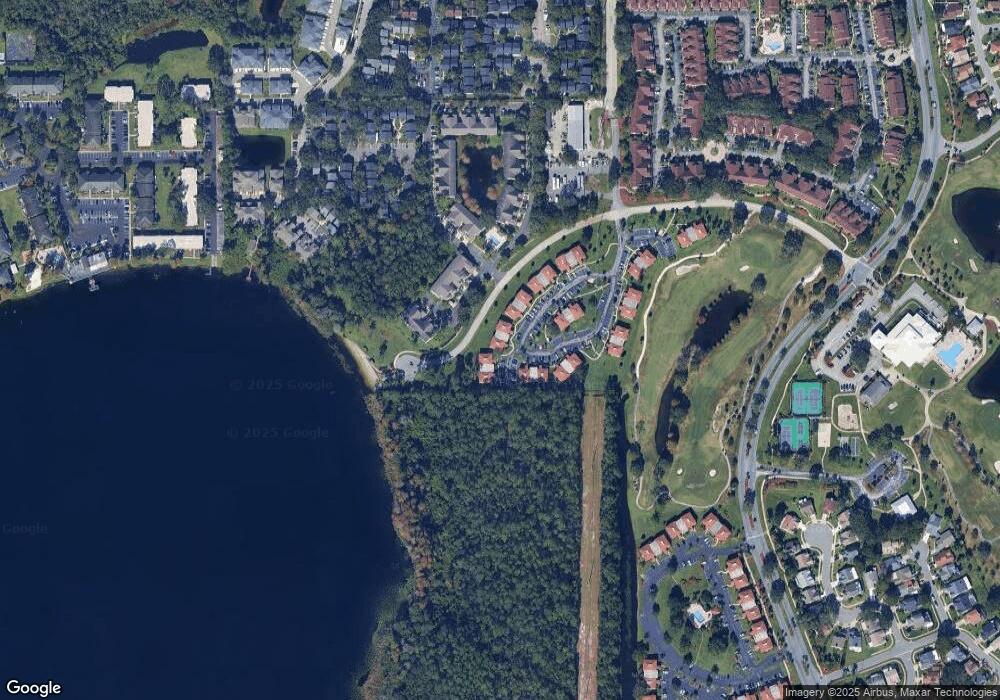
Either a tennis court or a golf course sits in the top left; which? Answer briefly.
tennis court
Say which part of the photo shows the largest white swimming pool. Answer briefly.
right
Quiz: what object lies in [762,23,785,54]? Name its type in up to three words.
swimming pool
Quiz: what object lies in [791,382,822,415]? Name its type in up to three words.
tennis court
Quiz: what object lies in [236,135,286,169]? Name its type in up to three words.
pond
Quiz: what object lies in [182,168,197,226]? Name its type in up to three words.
building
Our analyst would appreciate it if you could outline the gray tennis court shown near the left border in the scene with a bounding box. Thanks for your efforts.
[5,32,36,61]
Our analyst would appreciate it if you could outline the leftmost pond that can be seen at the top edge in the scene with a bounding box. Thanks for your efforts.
[116,30,208,68]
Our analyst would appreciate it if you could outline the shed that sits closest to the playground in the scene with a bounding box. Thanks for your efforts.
[860,375,892,405]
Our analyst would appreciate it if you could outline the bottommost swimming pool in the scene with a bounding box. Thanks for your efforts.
[688,604,711,627]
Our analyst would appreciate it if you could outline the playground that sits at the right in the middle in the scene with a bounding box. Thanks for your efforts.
[838,405,858,430]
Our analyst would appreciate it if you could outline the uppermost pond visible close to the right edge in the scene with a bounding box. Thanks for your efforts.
[951,186,1000,263]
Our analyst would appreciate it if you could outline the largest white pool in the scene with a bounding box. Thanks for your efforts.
[932,327,981,378]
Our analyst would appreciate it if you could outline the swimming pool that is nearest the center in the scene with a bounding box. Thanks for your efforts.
[486,226,506,248]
